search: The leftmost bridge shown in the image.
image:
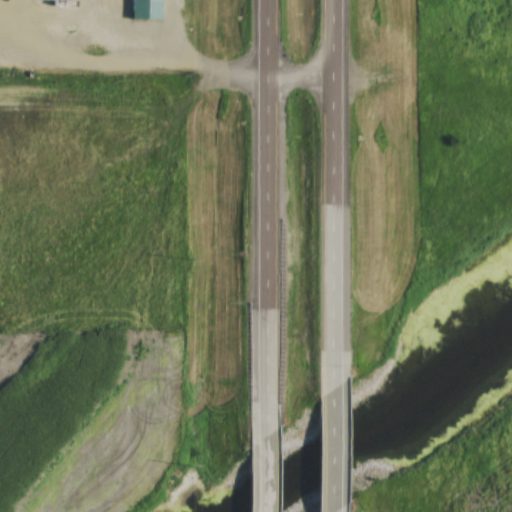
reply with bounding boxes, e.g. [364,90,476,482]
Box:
[252,420,284,512]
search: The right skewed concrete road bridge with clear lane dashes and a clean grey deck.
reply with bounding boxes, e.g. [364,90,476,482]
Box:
[322,374,352,512]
